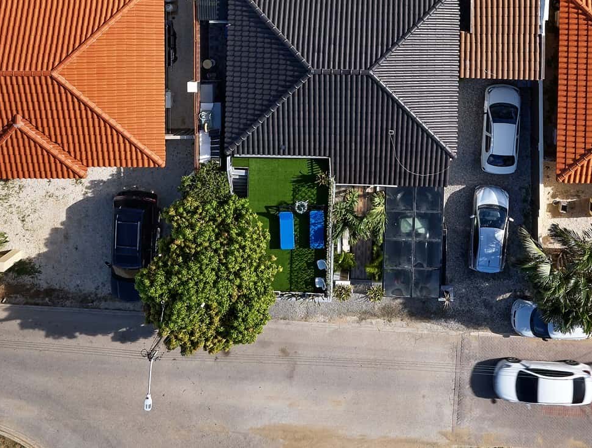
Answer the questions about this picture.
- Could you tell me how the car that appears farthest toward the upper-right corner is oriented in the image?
up and down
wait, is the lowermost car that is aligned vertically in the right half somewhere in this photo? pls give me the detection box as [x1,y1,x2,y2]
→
[468,181,514,275]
